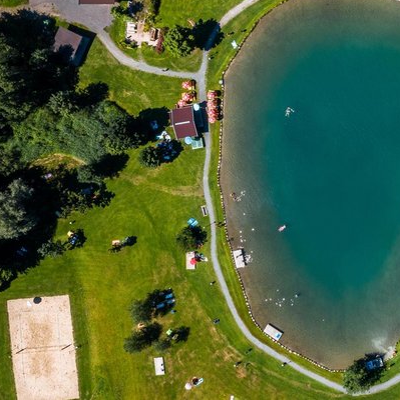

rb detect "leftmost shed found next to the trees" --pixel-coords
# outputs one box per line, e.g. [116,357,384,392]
[51,26,89,62]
